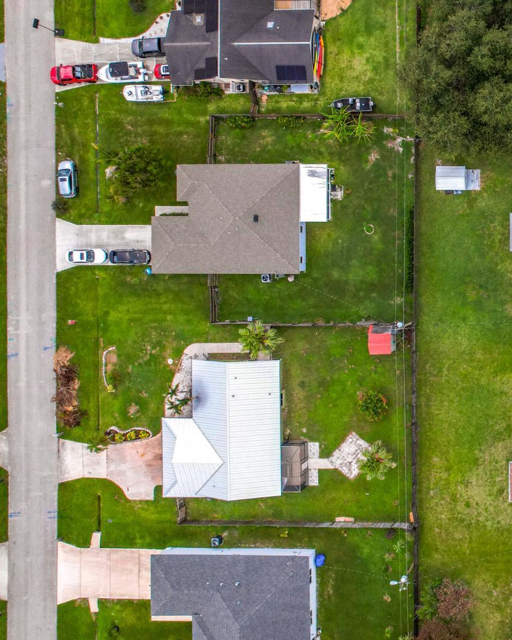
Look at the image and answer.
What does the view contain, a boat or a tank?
boat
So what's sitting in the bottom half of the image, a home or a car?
home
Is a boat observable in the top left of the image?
Yes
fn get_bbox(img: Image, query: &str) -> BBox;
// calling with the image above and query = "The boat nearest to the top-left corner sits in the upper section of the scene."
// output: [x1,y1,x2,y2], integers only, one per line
[98,60,149,82]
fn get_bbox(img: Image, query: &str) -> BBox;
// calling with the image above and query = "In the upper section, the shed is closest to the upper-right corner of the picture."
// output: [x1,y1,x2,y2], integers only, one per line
[436,166,481,191]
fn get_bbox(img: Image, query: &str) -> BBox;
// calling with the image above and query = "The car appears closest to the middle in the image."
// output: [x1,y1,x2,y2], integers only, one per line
[109,247,151,267]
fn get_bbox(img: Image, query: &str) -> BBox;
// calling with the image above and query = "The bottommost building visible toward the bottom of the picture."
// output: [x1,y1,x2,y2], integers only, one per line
[151,546,320,640]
